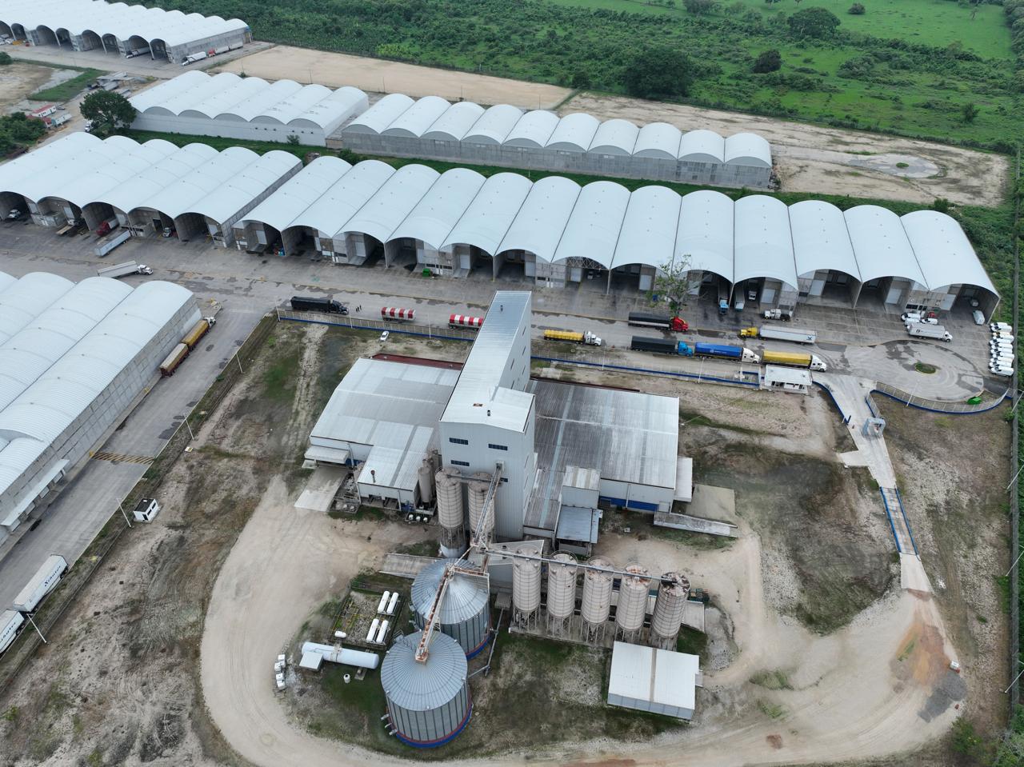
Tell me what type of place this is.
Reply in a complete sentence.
This looks like an industrial area.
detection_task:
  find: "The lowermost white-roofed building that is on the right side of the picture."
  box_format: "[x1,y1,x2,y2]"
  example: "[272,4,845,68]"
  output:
[607,640,702,722]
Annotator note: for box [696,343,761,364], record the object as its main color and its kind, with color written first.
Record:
blue truck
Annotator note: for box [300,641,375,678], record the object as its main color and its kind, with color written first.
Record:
white storage tank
